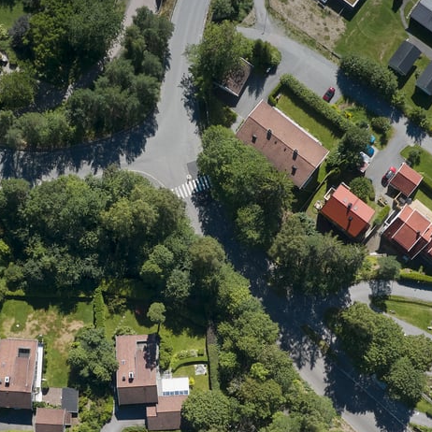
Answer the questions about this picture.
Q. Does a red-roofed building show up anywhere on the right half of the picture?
Yes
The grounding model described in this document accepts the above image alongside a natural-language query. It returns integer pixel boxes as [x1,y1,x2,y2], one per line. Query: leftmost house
[0,339,37,409]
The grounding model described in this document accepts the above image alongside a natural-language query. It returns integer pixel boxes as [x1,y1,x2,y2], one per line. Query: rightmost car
[383,168,397,184]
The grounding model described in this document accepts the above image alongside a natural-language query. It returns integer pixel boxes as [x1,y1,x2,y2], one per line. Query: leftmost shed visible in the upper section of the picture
[220,58,253,98]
